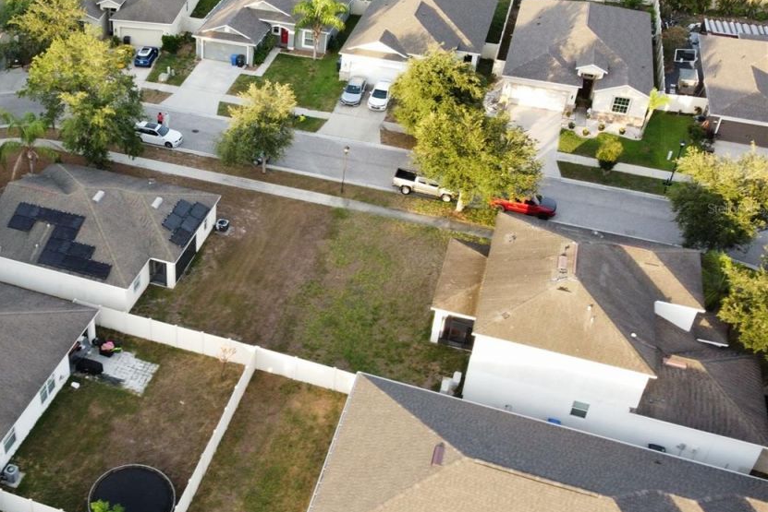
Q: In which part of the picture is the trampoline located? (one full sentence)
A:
The trampoline is in the bottom left part of the image.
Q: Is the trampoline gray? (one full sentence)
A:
No, the trampoline is black.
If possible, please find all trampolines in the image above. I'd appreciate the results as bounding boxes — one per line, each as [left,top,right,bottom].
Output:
[88,467,176,512]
